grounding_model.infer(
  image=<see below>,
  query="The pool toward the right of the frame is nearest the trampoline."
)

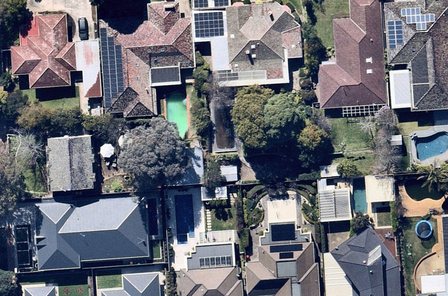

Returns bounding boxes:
[403,175,448,202]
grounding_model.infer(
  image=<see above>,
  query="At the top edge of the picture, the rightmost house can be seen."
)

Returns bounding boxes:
[382,0,448,110]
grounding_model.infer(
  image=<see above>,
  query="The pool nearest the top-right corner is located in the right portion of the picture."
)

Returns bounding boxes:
[414,130,448,161]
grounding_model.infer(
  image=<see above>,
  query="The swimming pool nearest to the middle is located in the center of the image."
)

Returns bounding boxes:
[213,97,239,152]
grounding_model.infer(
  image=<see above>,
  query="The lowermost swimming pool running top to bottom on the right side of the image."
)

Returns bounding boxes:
[351,175,370,214]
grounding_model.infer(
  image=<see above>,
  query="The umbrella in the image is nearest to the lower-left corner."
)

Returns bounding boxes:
[100,143,115,157]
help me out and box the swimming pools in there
[351,175,370,214]
[213,97,239,152]
[164,91,190,140]
[403,175,448,202]
[414,130,448,161]
[173,192,197,246]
